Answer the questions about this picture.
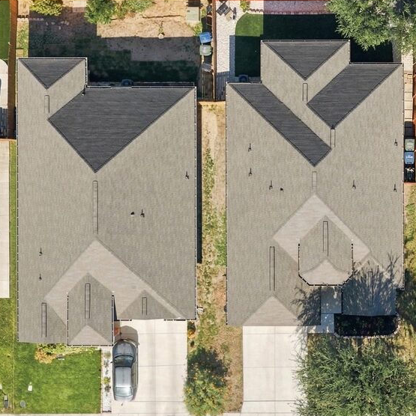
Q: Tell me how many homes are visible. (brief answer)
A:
two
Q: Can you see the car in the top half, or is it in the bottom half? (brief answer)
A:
bottom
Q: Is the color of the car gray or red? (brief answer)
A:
gray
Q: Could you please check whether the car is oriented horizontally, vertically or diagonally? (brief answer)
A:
vertically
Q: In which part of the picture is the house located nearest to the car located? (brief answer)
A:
left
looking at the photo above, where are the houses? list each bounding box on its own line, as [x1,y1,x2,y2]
[17,57,197,347]
[225,39,404,327]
